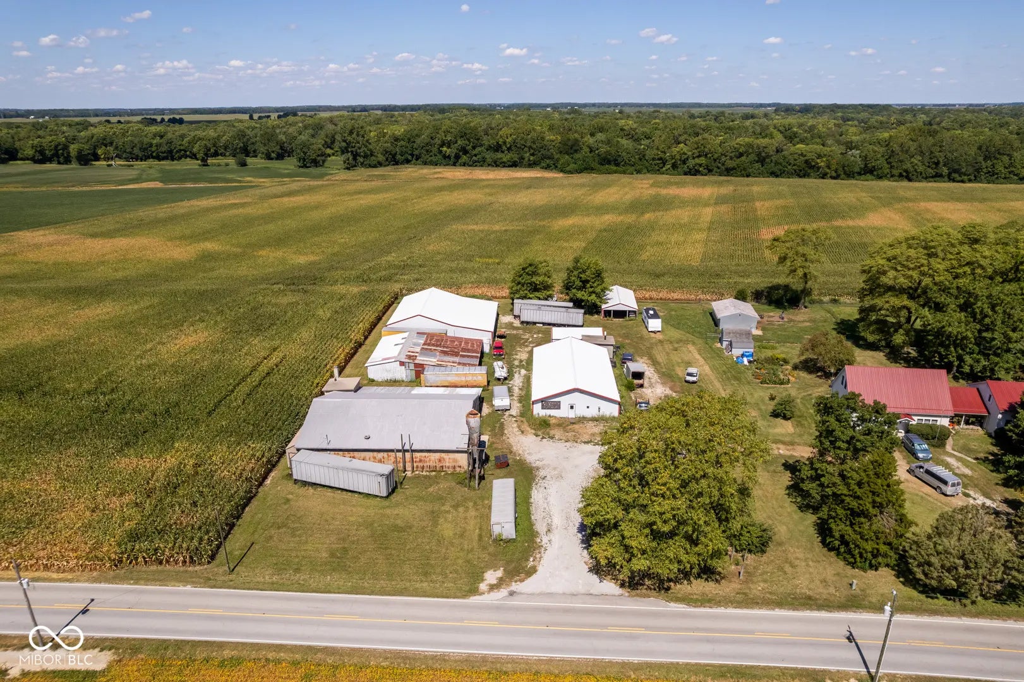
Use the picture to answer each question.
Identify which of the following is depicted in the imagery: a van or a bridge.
van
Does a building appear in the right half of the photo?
Yes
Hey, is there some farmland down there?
Yes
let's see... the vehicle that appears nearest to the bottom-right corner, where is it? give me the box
[906,463,965,497]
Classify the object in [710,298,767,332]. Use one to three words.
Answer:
building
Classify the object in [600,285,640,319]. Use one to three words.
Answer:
shed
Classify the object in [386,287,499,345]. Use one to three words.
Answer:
barn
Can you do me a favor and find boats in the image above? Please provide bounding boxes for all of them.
[491,356,507,379]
